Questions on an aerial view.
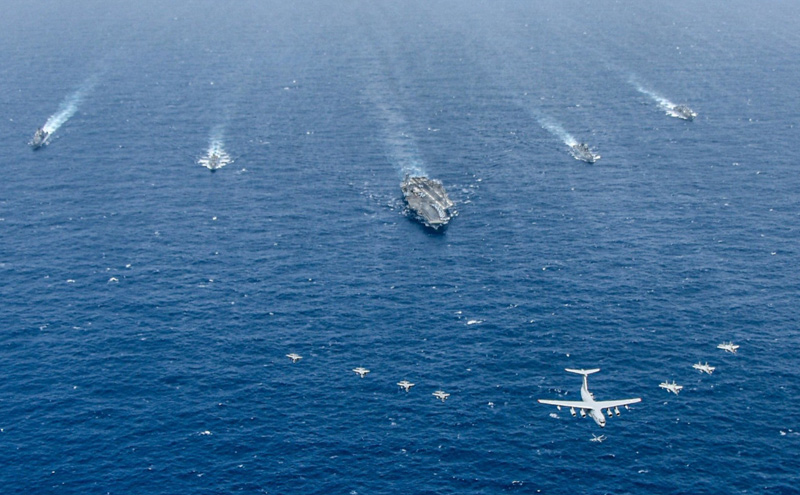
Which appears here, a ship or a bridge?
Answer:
ship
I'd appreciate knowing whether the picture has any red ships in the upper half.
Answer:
No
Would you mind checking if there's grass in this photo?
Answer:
No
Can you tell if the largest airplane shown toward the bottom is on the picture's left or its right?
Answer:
right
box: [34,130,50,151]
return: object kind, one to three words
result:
ship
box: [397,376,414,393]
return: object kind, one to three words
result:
airplane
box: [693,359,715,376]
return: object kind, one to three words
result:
airplane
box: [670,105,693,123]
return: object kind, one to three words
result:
ship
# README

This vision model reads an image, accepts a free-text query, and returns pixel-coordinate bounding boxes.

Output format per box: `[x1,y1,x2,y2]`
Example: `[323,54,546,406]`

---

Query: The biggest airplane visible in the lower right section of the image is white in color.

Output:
[538,369,642,429]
